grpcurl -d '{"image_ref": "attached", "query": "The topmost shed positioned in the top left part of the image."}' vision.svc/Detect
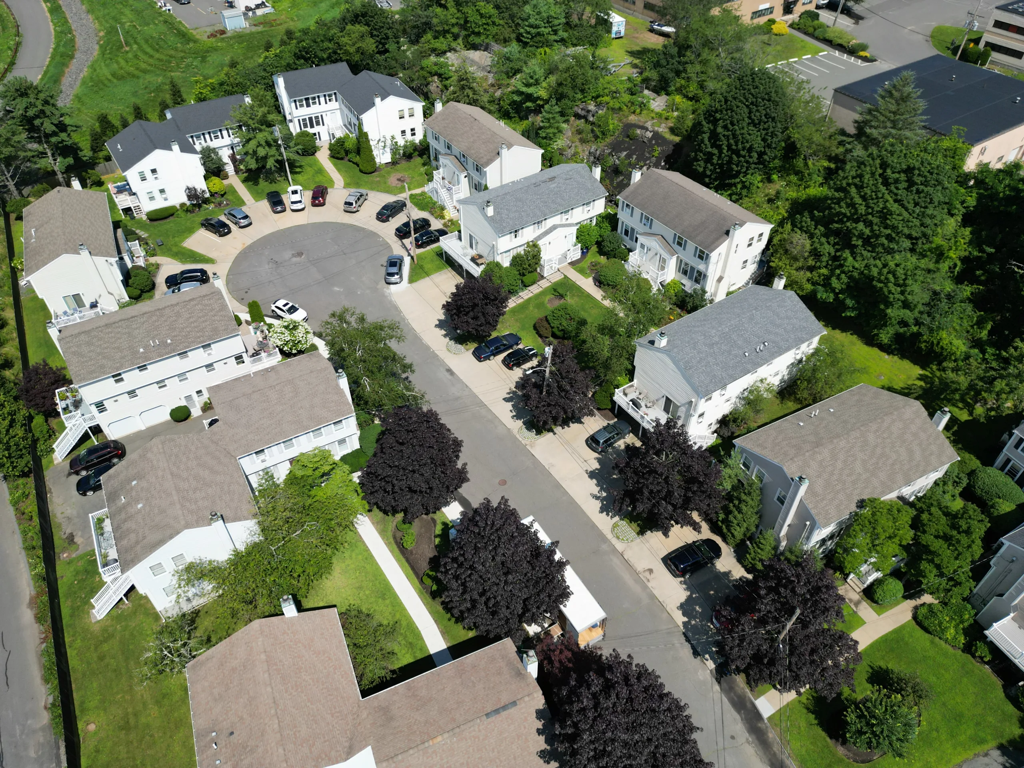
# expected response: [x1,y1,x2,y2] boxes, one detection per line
[224,11,246,31]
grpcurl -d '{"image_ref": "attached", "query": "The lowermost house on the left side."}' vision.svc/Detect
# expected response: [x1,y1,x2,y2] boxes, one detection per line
[184,593,568,768]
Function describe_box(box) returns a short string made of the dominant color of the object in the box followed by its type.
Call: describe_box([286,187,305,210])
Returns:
white car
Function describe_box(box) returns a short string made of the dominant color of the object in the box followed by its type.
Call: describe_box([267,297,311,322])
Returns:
white car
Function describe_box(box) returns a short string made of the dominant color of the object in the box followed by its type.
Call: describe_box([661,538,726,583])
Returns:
black car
